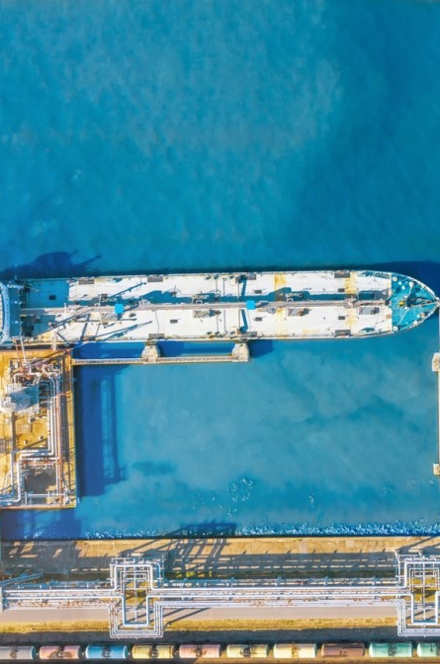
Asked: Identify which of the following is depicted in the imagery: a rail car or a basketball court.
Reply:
rail car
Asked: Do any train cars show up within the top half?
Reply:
No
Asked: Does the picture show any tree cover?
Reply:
No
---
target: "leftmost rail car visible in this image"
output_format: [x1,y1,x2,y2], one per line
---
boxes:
[0,644,42,661]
